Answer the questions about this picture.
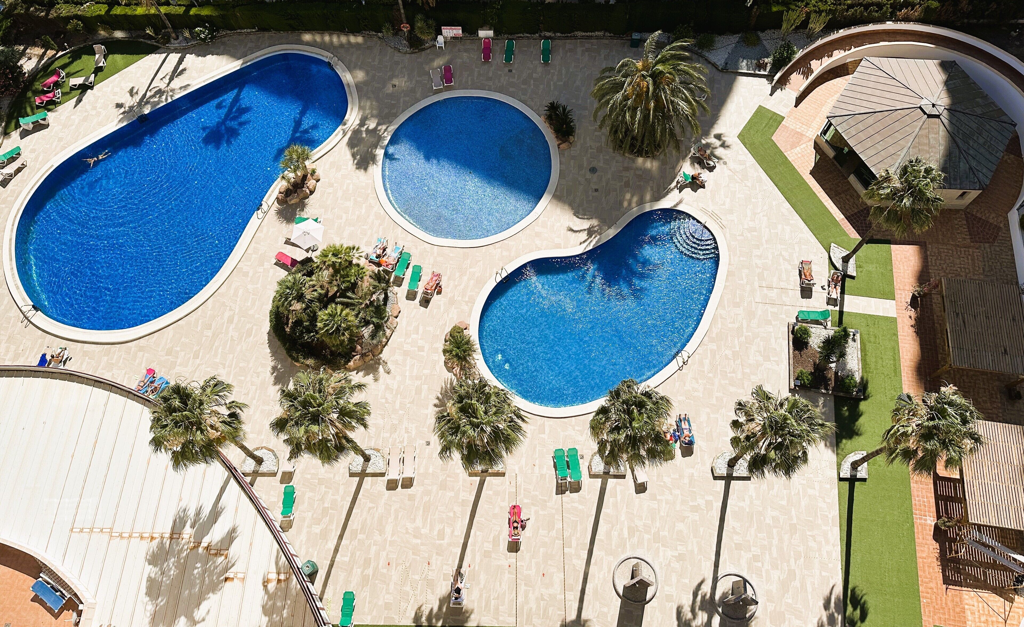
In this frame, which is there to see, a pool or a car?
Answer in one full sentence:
Of the two, only a pool appears.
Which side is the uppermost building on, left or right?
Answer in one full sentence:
The uppermost building sits on the right side.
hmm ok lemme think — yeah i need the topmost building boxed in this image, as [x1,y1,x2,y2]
[821,56,1018,204]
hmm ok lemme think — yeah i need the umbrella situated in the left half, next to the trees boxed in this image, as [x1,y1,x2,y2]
[290,218,324,251]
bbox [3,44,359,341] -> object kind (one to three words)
swimming pool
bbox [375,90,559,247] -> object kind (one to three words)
swimming pool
